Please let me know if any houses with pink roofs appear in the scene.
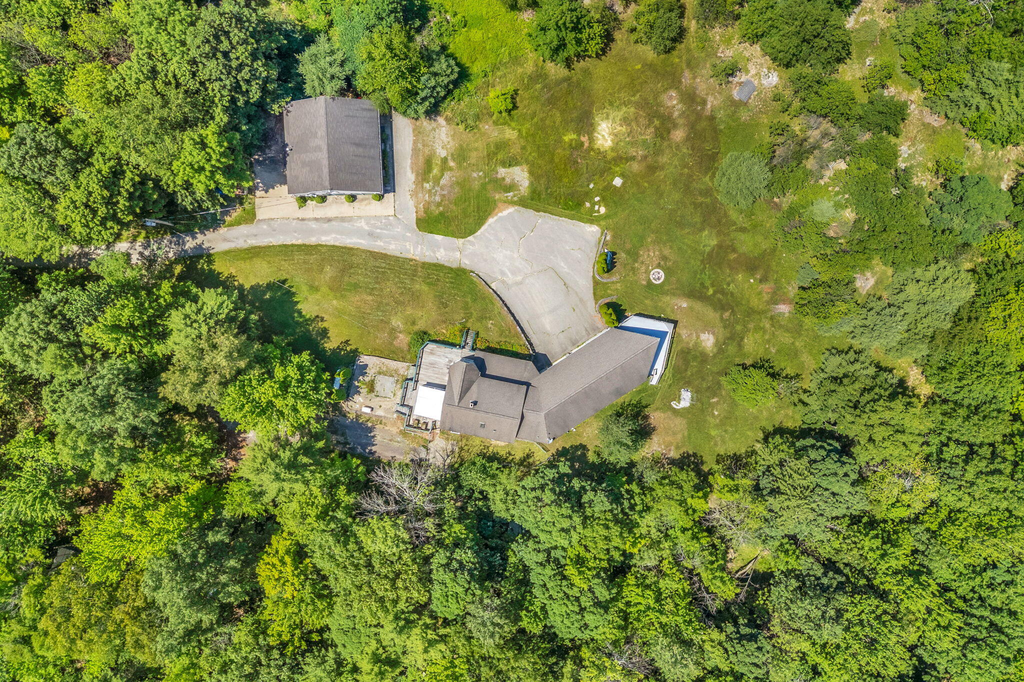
No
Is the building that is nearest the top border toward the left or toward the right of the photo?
left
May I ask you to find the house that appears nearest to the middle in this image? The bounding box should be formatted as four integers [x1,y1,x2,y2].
[440,328,660,444]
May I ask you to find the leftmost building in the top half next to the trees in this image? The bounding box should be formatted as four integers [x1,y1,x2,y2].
[284,97,384,197]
